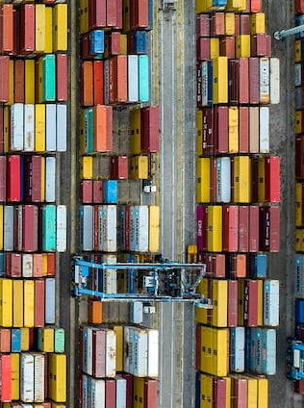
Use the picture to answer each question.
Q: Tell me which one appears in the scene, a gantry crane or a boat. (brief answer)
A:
gantry crane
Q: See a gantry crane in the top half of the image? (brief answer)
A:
No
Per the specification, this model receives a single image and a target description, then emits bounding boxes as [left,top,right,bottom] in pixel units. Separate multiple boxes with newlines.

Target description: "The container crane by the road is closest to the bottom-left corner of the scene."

[73,250,211,302]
